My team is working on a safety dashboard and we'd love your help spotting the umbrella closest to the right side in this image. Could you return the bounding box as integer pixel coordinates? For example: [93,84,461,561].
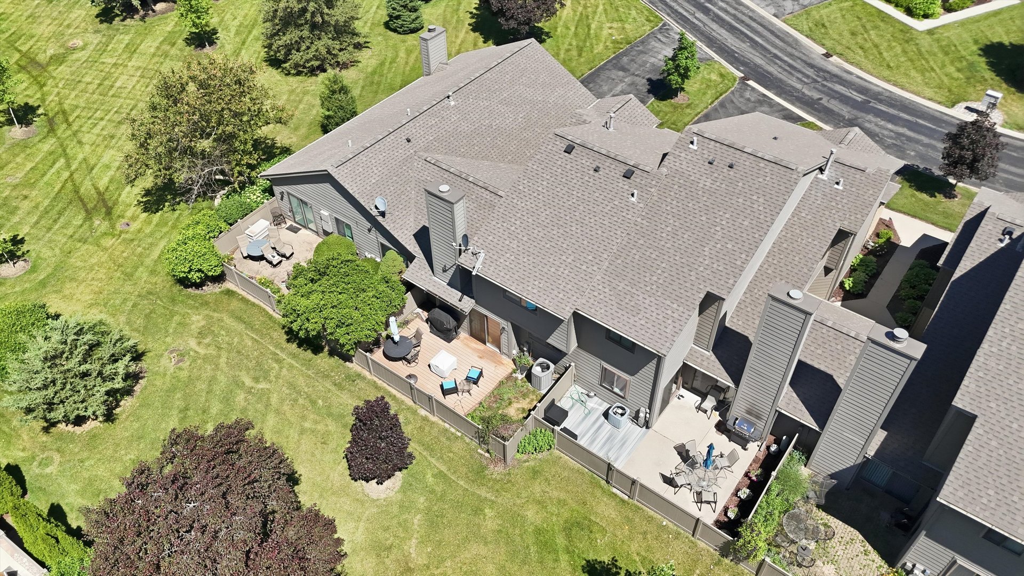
[697,446,715,488]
